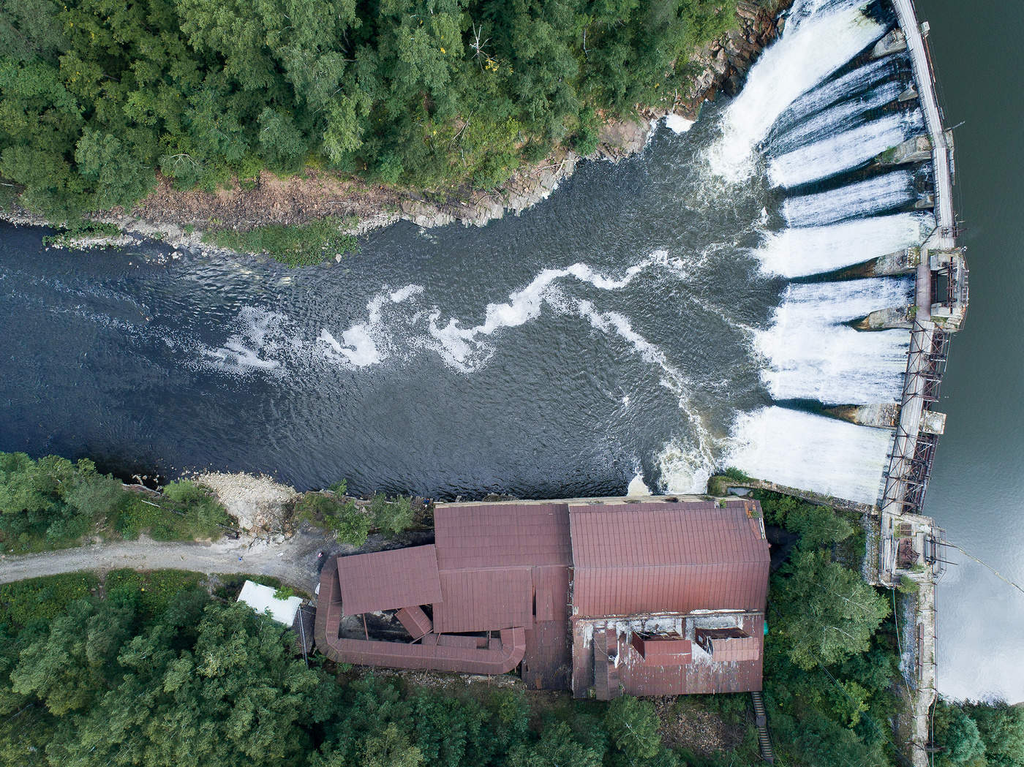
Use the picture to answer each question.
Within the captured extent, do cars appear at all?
No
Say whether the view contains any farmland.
No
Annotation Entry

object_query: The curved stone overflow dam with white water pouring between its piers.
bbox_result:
[697,0,945,767]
